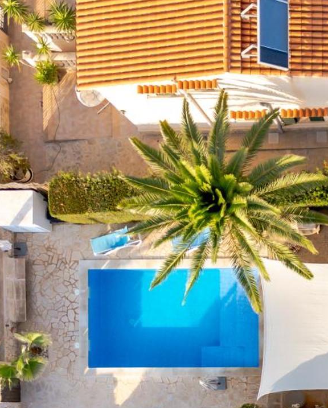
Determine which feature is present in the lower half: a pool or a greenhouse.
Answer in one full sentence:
What appears in the lower half is a pool.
